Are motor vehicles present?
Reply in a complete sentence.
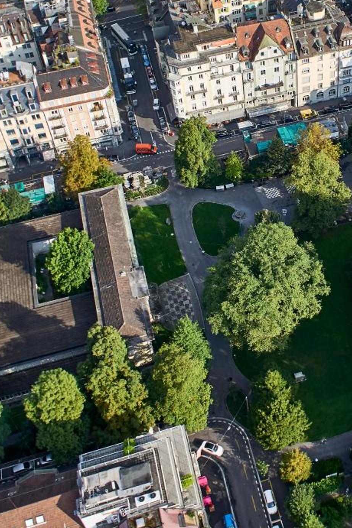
Yes, a motor vehicle is visible in the scene.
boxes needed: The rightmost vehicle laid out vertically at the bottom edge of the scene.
[262,488,277,515]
